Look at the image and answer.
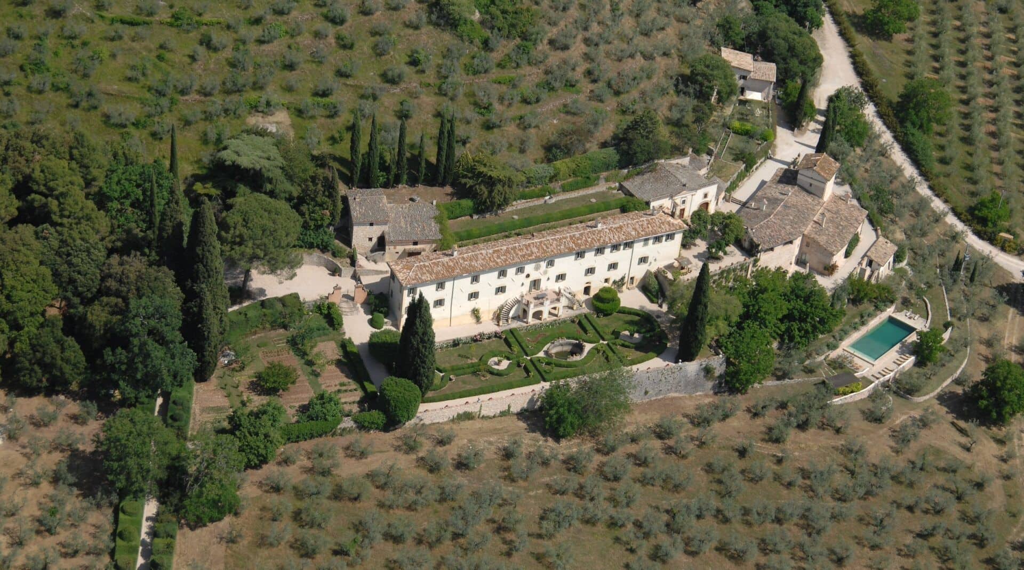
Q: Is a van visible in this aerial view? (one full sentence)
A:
No, this view has no van in it.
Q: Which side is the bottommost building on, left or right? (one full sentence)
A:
The bottommost building sits on the right side.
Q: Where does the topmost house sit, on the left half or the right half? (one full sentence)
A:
You can find the topmost house on the right side of the picture.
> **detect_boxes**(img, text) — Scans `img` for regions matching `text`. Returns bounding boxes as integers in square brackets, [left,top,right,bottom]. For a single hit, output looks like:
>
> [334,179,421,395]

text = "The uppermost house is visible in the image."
[721,47,776,100]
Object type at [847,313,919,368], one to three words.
swimming pool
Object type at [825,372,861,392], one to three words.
building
